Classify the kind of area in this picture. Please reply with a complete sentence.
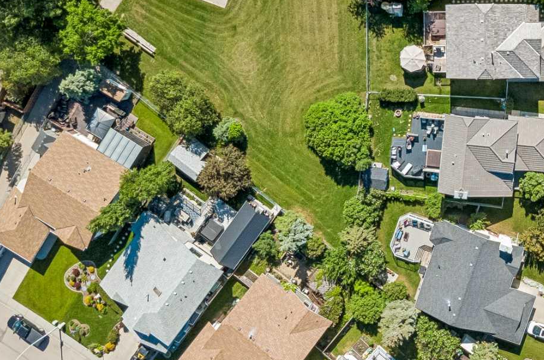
This image shows a residential area.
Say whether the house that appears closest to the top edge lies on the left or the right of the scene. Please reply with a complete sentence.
You can find the house that appears closest to the top edge on the right side of the picture.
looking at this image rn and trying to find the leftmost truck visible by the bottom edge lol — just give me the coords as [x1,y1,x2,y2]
[8,314,51,348]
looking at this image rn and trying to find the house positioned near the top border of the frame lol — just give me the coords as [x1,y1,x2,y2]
[445,2,544,82]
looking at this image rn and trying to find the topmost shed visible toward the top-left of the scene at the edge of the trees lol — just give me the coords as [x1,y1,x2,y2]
[100,80,131,101]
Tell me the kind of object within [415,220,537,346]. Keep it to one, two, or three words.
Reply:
house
